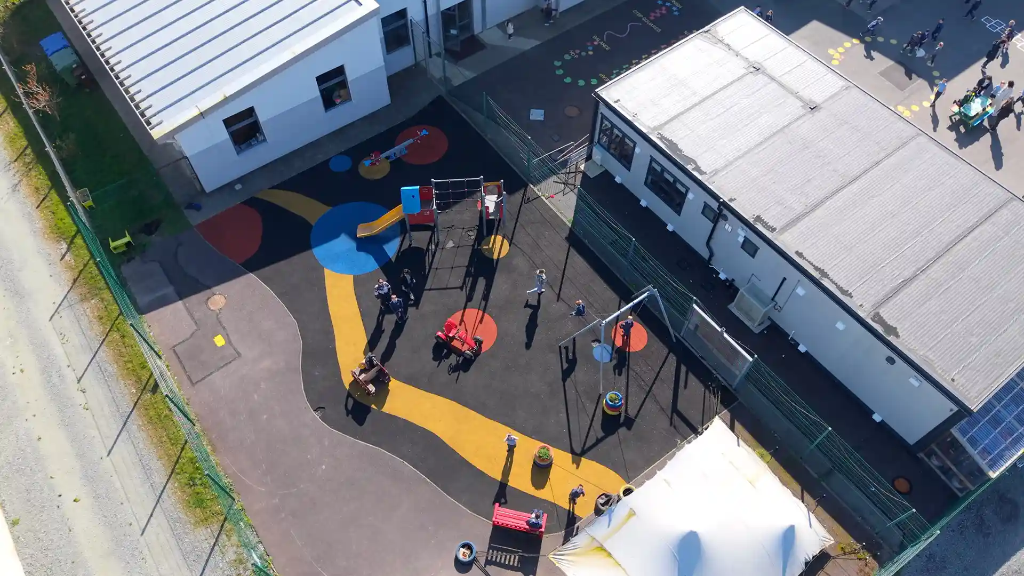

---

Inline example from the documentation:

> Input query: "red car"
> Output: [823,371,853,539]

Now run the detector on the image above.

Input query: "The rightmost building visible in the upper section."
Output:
[588,5,1024,440]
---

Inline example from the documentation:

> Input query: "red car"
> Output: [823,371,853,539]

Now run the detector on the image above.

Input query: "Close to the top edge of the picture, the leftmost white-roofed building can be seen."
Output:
[55,0,390,192]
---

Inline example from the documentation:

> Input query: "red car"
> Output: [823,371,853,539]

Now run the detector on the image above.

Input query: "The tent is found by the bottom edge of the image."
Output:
[476,392,863,576]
